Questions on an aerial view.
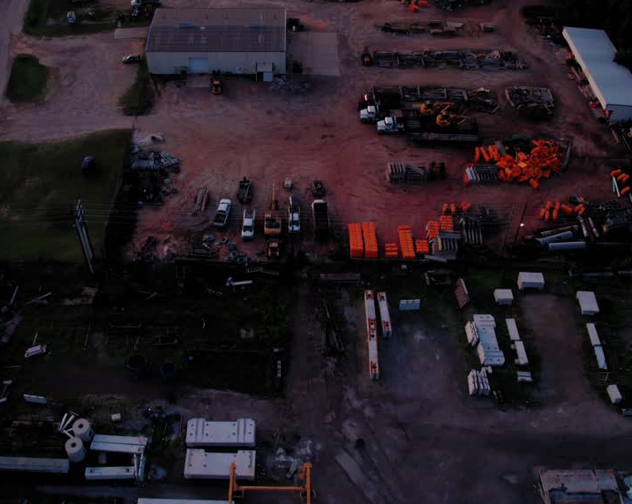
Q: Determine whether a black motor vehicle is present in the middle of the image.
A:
Yes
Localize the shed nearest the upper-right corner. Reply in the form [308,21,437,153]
[555,29,632,125]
